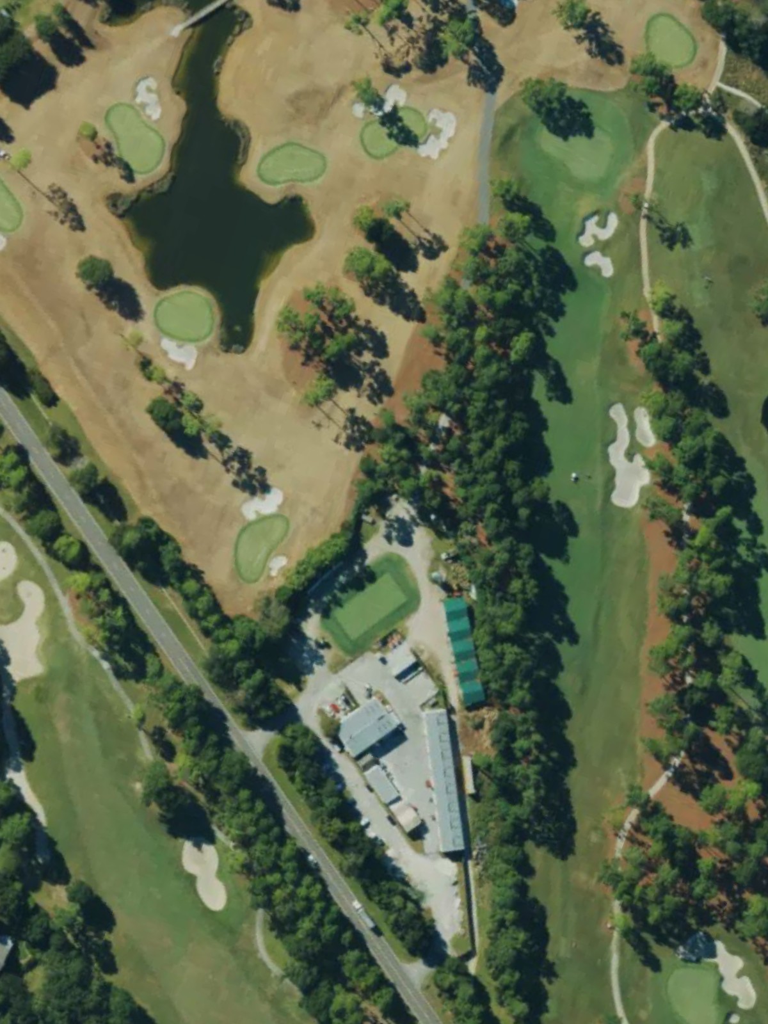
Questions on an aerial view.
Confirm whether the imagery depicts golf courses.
Yes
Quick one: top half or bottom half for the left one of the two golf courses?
bottom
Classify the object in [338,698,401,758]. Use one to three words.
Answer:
building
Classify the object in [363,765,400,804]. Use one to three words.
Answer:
shed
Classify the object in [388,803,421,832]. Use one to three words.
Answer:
shed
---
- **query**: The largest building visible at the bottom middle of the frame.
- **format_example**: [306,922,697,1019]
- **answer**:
[422,710,464,852]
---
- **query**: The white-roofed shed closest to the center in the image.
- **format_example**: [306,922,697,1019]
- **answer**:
[386,645,417,677]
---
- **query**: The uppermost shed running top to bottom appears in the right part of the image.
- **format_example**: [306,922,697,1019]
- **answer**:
[442,598,485,705]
